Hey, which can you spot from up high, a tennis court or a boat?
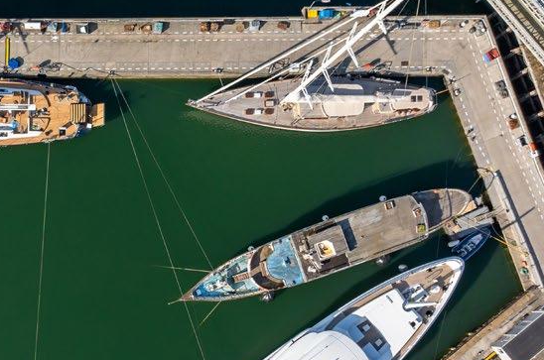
boat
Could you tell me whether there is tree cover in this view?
No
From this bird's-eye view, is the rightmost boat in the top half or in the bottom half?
bottom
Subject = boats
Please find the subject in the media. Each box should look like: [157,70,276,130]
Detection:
[188,0,441,133]
[452,226,491,260]
[256,257,465,360]
[0,62,105,149]
[168,188,474,304]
